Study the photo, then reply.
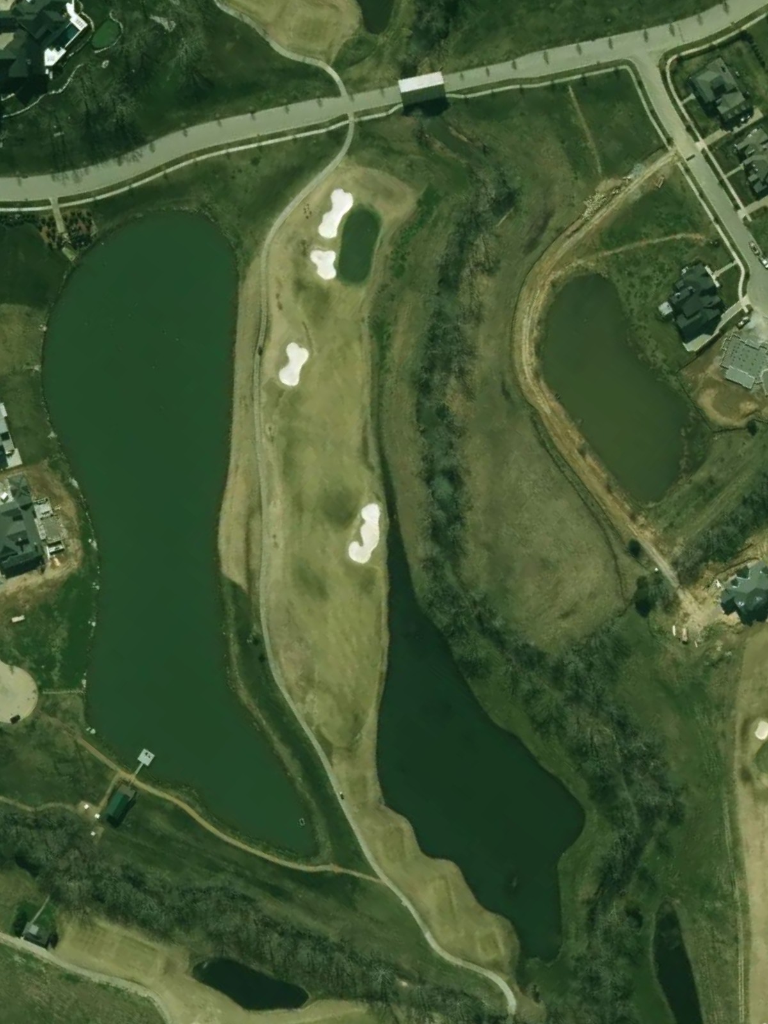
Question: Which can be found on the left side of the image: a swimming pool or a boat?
swimming pool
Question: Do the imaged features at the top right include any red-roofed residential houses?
No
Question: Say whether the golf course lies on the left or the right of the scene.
left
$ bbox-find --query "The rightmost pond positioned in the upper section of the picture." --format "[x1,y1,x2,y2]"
[541,273,690,505]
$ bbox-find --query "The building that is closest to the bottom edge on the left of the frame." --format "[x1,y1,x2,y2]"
[22,922,48,945]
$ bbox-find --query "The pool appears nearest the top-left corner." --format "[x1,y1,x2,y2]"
[55,23,79,47]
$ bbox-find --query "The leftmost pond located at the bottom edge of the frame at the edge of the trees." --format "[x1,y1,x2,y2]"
[193,957,309,1010]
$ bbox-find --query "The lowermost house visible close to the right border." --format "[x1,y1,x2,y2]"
[721,559,768,628]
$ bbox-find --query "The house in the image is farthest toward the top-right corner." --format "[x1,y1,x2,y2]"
[686,55,753,123]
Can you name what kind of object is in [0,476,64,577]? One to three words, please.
house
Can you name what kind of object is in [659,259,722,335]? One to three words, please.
house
